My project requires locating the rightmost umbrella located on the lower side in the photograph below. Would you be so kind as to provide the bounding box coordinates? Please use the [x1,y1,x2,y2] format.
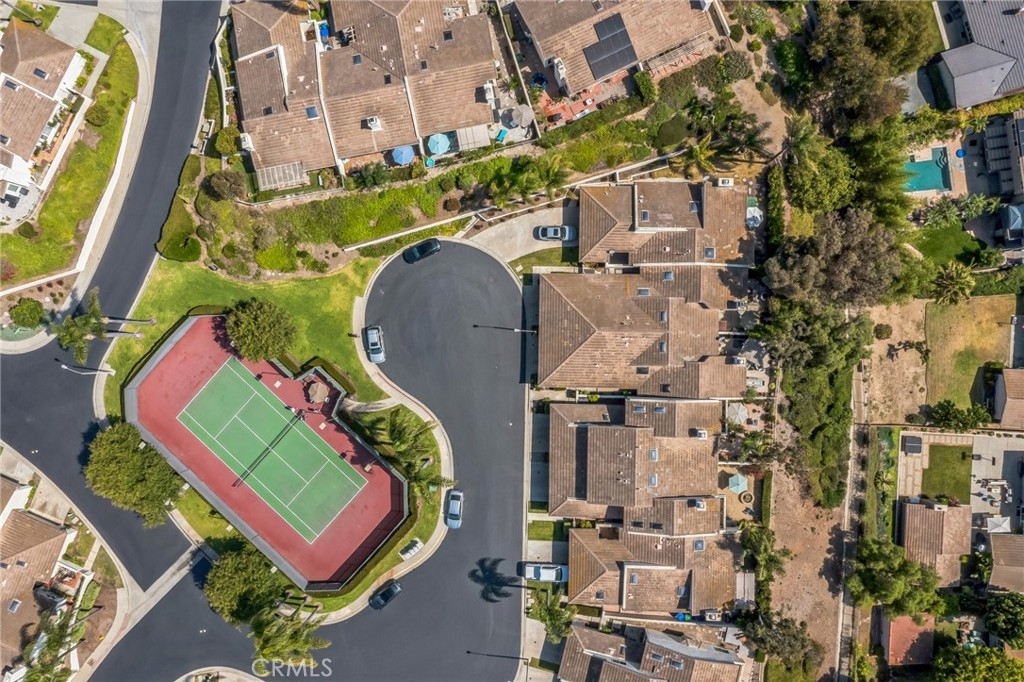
[982,513,1006,534]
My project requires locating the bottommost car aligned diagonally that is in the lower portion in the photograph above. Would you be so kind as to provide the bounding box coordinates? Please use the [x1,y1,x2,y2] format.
[368,580,402,609]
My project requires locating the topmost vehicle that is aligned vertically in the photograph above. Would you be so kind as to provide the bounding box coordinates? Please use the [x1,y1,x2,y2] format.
[364,325,385,363]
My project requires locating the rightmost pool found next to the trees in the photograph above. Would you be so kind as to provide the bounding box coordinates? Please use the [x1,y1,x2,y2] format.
[903,146,952,193]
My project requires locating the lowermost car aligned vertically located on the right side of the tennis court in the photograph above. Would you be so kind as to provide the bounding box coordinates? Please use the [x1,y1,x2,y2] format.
[445,489,464,527]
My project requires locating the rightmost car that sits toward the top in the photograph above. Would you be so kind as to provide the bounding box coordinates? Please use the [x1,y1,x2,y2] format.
[539,223,576,241]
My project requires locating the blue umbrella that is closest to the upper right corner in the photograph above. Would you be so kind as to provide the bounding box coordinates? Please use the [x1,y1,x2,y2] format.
[1000,210,1023,228]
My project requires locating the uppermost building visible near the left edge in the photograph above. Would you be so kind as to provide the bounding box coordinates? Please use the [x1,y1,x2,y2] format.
[0,16,88,103]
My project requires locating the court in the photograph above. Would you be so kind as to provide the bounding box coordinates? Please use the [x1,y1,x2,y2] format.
[137,316,407,583]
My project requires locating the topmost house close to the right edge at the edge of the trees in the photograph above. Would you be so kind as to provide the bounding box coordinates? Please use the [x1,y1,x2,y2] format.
[928,0,1024,112]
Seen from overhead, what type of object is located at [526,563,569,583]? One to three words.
vehicle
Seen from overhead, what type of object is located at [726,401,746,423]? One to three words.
umbrella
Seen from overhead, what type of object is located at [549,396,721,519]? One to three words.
house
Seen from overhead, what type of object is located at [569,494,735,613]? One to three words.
house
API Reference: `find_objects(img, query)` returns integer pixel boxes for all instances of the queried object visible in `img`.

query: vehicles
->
[368,580,402,609]
[364,325,385,363]
[526,563,569,583]
[539,223,576,241]
[403,236,442,263]
[445,489,464,527]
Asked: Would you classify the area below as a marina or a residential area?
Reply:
residential area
